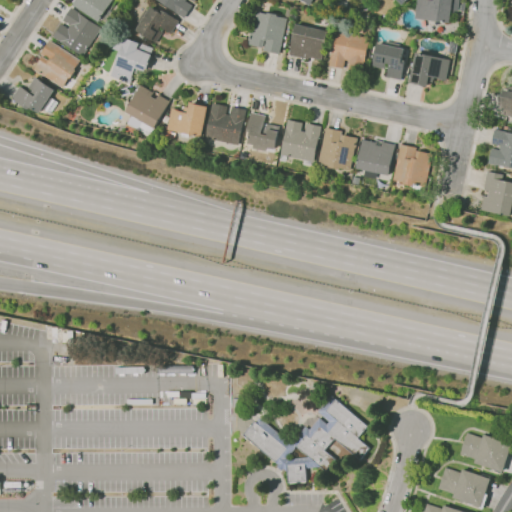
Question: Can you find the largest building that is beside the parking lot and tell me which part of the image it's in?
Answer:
bottom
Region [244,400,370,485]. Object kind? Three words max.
building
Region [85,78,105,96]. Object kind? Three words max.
swimming pool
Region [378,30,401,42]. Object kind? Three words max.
swimming pool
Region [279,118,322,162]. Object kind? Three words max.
house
